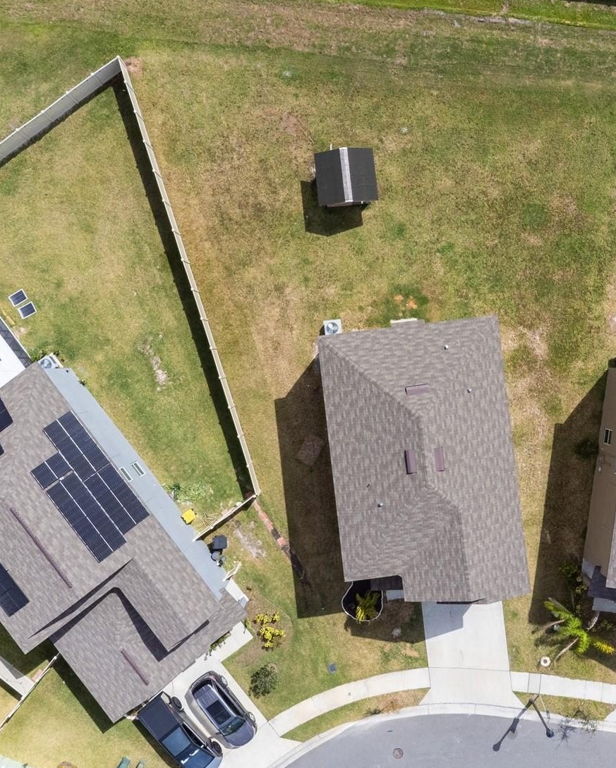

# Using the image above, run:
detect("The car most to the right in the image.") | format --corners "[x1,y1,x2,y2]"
[191,672,258,748]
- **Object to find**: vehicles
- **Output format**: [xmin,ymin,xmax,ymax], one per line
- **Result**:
[138,689,225,768]
[191,672,258,748]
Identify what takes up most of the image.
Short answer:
grass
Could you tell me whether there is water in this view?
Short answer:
No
